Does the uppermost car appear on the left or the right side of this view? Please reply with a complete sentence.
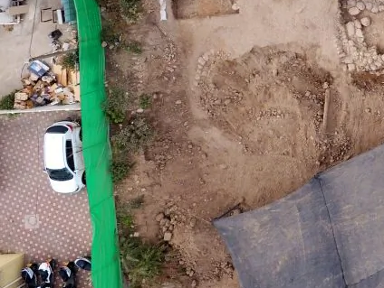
The uppermost car appears in the left half of the scene.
